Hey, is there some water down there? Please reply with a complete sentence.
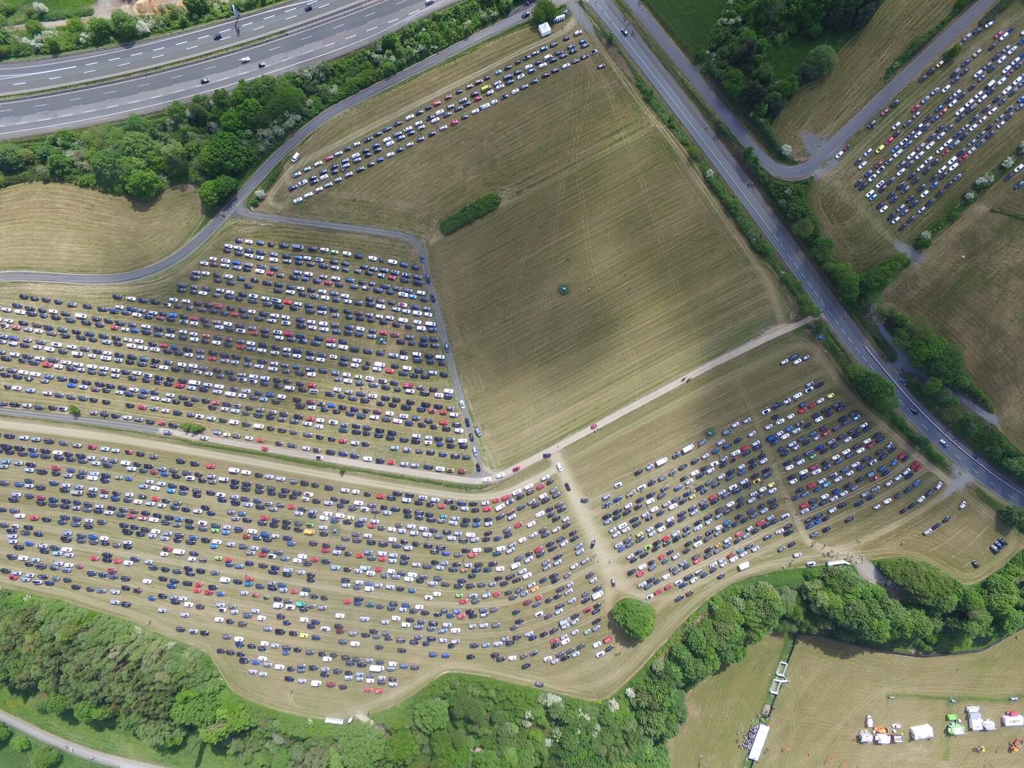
No, the scene doesn't show any water.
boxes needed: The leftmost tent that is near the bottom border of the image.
[748,722,769,760]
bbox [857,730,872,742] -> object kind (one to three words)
gazebo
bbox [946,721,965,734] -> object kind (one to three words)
gazebo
